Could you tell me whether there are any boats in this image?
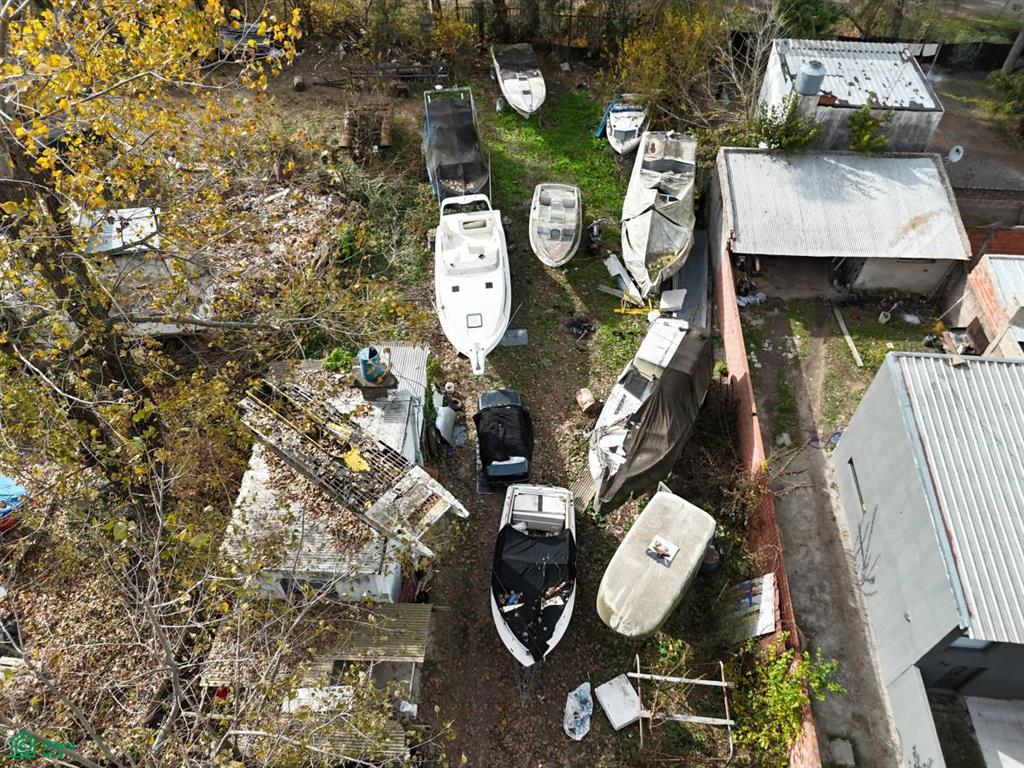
Yes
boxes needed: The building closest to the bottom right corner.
[833,342,1024,692]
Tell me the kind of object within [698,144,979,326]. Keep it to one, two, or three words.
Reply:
building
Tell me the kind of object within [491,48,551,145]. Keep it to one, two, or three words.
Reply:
boat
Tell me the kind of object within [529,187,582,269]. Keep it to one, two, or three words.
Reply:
boat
